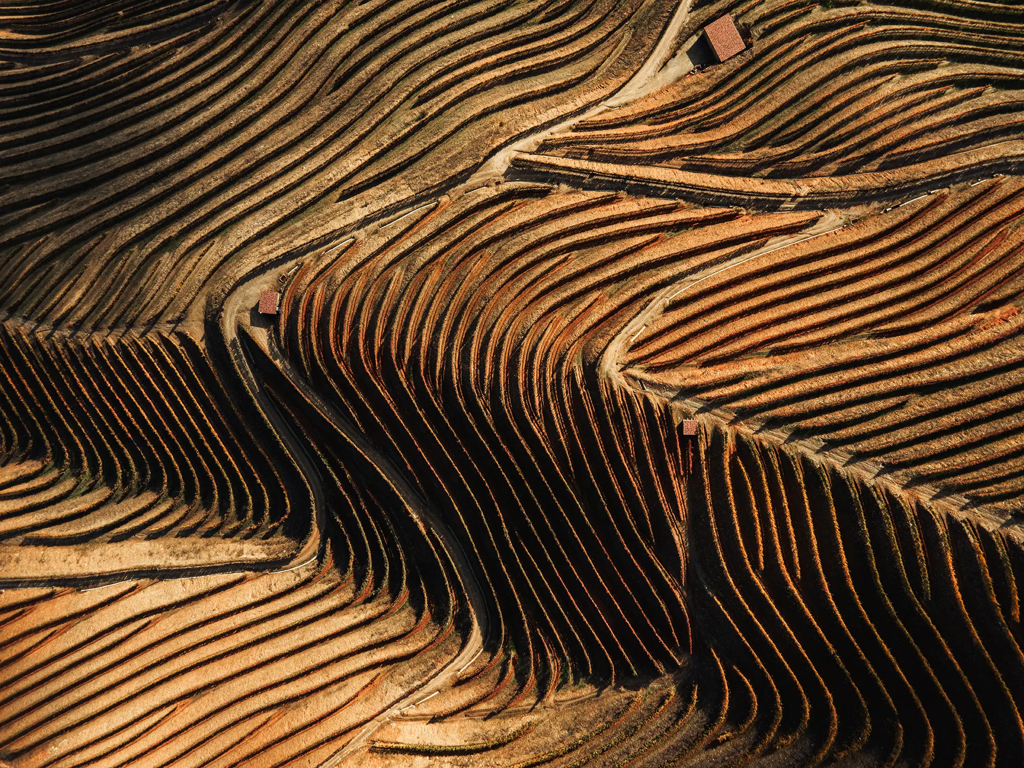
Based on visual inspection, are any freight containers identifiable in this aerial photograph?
No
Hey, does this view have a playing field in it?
No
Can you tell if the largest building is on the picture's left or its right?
right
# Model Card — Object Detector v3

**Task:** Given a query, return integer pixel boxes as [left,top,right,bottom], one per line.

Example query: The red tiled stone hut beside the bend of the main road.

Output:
[259,291,280,314]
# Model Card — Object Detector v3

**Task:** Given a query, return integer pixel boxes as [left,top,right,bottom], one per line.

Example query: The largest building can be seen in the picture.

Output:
[704,13,747,63]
